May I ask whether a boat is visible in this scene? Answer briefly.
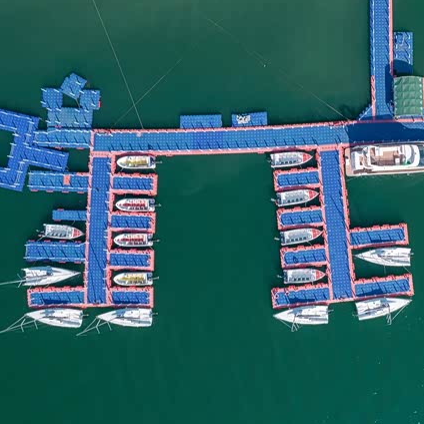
Yes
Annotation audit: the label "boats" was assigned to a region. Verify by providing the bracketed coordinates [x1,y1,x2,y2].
[0,308,90,335]
[272,191,319,212]
[113,272,160,291]
[351,290,413,322]
[83,308,160,336]
[345,142,424,178]
[276,228,323,250]
[278,269,326,288]
[274,306,335,334]
[1,262,83,288]
[266,153,313,172]
[354,248,417,267]
[113,233,161,252]
[38,225,85,242]
[116,155,163,174]
[115,198,163,216]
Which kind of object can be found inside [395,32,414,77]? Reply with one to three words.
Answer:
pier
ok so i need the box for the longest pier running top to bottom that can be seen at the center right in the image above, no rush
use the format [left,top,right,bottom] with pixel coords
[317,149,356,302]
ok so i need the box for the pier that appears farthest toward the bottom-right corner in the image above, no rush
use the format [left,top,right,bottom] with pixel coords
[355,274,414,299]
